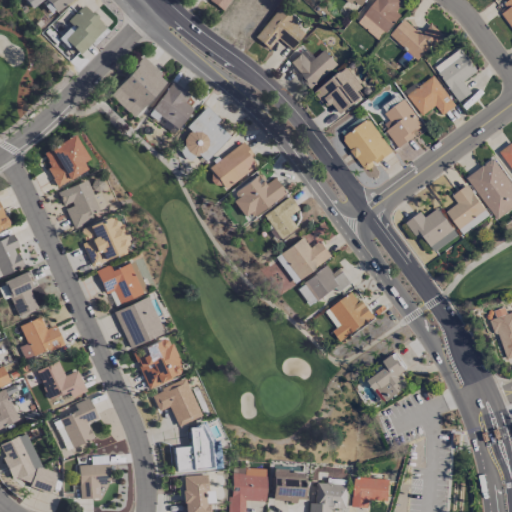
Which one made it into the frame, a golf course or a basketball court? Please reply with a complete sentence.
There is a golf course in the scene.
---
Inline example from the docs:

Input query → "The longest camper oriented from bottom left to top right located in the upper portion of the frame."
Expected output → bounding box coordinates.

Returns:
[464,91,484,108]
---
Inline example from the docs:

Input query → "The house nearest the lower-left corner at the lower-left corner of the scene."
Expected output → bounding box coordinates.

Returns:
[1,435,63,494]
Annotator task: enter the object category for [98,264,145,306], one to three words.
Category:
house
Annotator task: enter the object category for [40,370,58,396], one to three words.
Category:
solar panel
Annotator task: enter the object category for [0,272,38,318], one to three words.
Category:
house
